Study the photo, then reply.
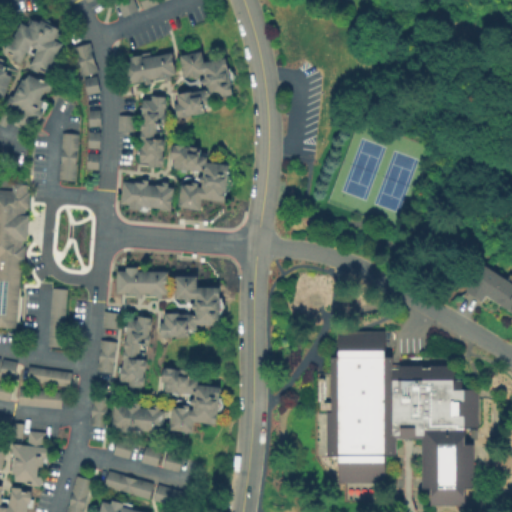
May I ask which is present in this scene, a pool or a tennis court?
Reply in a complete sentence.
The one in the frame is a tennis court.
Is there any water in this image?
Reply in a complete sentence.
No, the picture contains no water.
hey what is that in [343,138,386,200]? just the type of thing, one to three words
tennis court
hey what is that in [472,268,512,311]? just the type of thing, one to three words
house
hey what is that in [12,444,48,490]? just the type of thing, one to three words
building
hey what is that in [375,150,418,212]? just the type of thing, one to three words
tennis court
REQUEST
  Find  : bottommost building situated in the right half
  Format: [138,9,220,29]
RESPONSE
[332,332,478,506]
